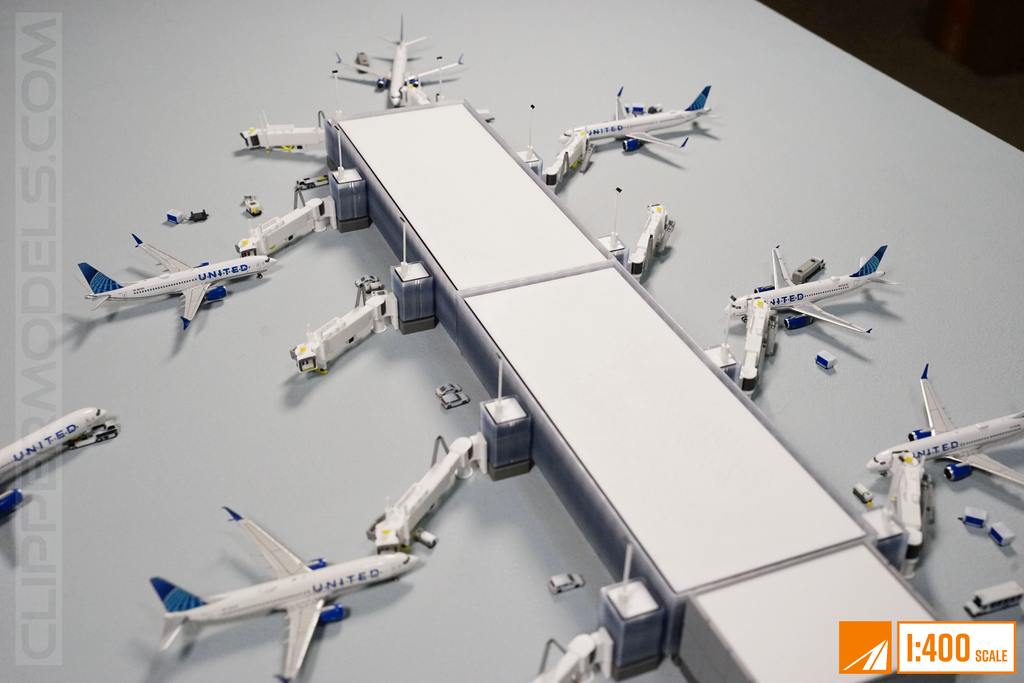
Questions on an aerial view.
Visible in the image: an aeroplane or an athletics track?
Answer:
aeroplane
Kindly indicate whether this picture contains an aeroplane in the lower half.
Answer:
Yes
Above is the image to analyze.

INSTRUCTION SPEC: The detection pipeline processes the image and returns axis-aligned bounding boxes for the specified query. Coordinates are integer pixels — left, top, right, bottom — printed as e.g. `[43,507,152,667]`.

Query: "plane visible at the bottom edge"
[143,507,416,683]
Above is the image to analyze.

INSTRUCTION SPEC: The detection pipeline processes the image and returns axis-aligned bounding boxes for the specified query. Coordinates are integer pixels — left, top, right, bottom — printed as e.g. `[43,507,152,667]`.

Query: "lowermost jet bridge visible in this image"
[527,626,614,683]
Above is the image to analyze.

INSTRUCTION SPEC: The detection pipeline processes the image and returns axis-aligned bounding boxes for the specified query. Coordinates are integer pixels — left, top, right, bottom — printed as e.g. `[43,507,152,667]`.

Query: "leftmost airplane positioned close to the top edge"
[334,16,467,105]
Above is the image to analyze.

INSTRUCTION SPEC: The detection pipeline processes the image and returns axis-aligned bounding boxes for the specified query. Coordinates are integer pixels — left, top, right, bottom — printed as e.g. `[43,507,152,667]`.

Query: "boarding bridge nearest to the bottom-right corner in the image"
[890,446,933,575]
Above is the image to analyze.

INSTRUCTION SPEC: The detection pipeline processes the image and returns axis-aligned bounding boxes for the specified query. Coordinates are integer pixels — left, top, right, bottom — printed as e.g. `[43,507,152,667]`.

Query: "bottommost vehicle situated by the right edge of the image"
[966,579,1024,616]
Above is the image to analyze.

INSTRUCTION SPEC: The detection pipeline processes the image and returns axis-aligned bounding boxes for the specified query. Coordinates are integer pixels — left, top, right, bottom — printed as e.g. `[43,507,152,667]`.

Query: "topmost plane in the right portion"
[559,85,727,150]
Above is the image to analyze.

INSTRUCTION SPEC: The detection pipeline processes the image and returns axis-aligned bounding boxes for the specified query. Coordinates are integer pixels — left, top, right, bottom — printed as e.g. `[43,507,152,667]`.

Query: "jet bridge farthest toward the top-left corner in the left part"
[241,113,327,158]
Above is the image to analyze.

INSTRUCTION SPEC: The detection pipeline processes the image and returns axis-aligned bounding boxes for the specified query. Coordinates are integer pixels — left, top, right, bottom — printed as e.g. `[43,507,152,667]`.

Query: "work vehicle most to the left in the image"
[68,424,120,448]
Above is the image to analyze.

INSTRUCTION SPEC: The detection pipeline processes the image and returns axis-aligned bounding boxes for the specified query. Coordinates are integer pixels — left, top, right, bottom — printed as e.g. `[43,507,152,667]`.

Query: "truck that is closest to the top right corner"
[793,257,825,283]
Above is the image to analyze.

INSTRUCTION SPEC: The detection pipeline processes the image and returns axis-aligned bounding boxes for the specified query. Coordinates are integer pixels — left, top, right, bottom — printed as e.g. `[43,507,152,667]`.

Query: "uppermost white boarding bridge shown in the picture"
[401,78,439,107]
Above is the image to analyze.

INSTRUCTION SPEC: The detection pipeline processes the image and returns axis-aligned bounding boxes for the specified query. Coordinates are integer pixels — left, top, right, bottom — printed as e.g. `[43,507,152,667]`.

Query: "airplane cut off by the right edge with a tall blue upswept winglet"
[863,360,1024,485]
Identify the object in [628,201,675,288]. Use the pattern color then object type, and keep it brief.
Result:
white jet bridge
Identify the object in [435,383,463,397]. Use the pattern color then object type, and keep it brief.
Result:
gray car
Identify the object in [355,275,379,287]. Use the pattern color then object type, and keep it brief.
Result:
gray vehicle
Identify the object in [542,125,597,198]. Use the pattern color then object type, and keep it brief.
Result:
white jet bridge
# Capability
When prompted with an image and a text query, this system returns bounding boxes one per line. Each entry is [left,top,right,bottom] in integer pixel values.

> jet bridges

[289,286,402,374]
[401,78,439,107]
[241,113,327,158]
[542,125,597,198]
[527,626,614,683]
[234,189,340,256]
[739,296,778,405]
[367,430,490,555]
[890,446,933,575]
[628,201,675,288]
